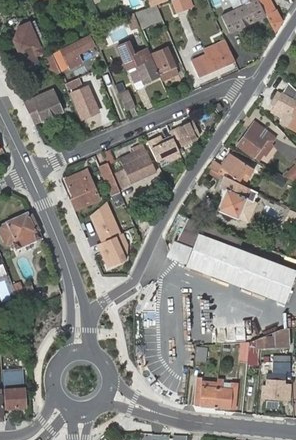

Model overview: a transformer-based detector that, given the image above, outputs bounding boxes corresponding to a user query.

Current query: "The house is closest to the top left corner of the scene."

[14,20,42,64]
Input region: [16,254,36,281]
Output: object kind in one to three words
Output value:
swimming pool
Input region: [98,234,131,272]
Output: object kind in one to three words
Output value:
house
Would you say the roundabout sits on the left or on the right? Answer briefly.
left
